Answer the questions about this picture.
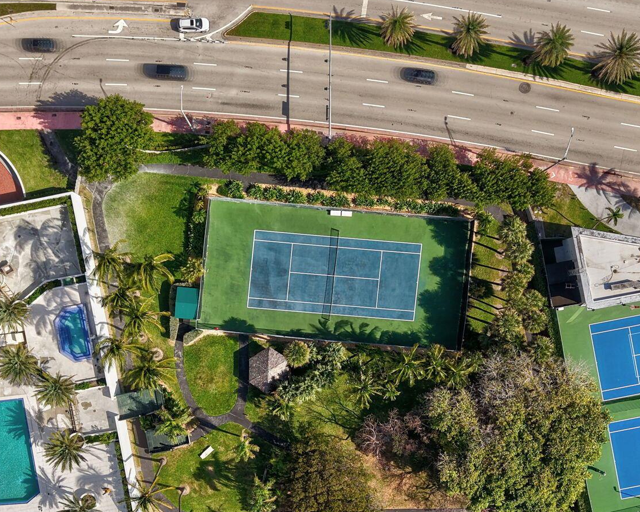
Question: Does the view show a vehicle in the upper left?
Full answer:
Yes, a vehicle is visible in the upper left.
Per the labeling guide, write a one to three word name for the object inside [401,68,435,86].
car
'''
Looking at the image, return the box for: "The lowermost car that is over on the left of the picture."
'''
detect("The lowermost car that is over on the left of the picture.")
[147,63,185,81]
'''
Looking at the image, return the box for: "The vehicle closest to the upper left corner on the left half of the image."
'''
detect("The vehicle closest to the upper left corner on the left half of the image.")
[23,37,56,54]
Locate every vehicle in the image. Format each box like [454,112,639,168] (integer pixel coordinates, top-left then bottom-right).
[147,63,185,81]
[23,37,56,54]
[177,17,211,34]
[401,68,435,86]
